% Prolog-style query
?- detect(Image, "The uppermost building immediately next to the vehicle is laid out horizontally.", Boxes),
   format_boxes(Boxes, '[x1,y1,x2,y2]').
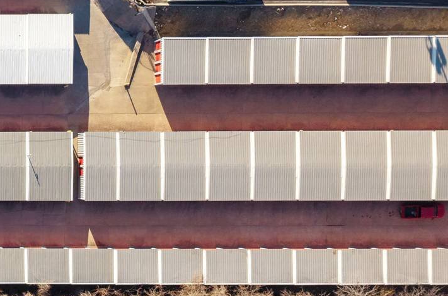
[77,130,448,201]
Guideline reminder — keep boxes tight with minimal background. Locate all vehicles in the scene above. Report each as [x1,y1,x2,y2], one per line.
[398,202,446,219]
